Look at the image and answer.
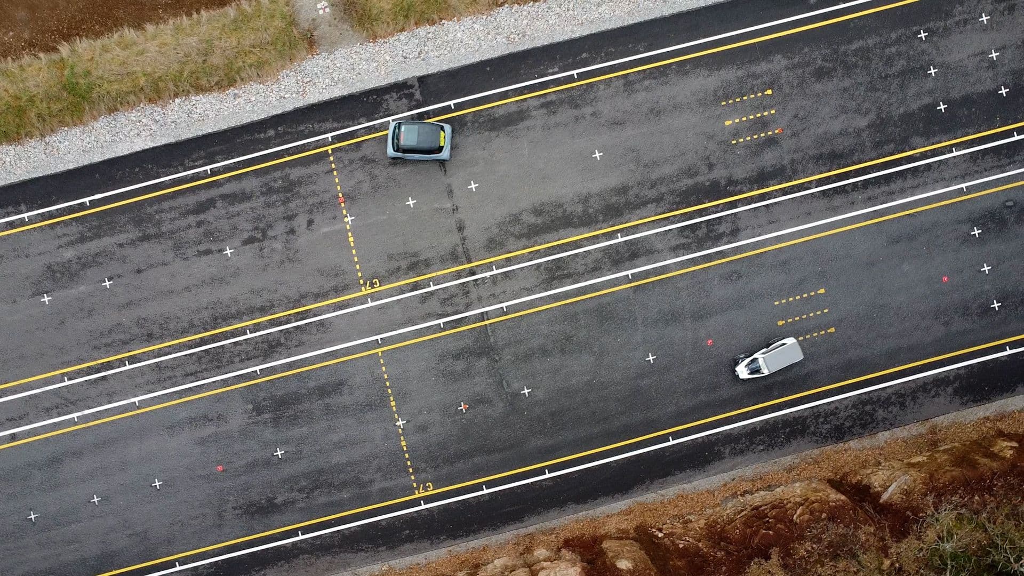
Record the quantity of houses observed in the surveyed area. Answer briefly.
0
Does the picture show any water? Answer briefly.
No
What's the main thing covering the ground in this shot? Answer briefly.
paved ground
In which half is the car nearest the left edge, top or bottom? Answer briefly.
top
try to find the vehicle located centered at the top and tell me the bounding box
[387,120,452,161]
